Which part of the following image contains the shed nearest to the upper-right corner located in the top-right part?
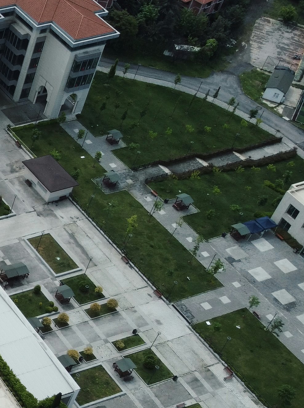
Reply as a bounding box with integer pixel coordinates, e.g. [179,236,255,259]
[263,60,299,103]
